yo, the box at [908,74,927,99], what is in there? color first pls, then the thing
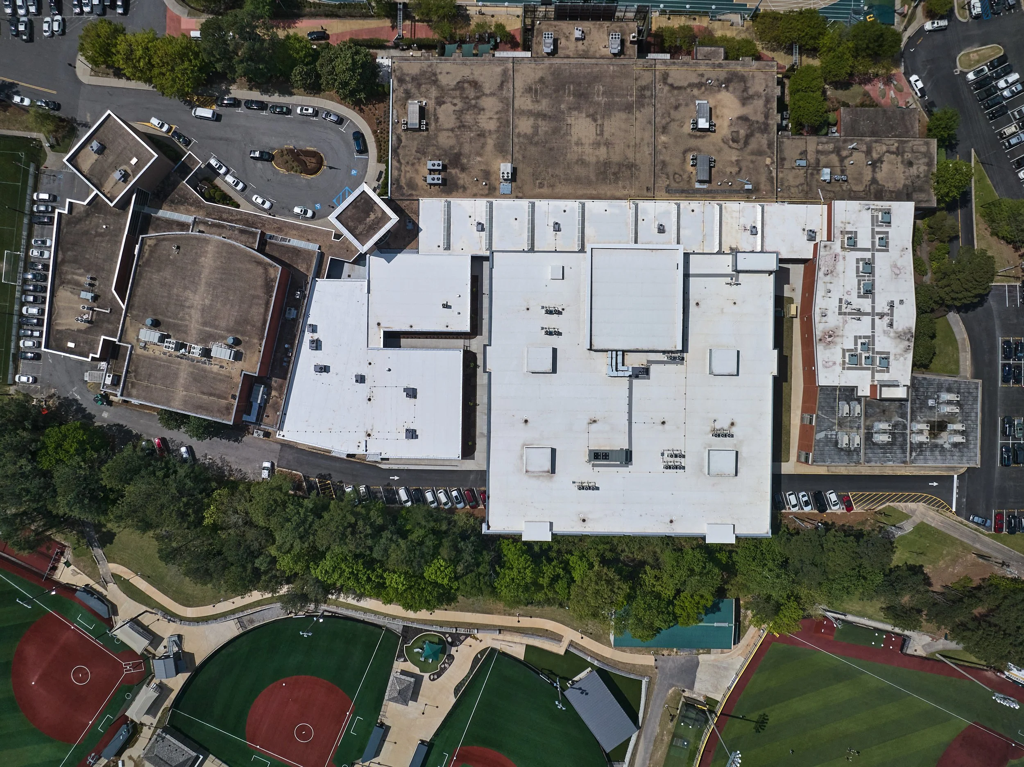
white vehicle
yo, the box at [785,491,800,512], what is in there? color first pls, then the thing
white car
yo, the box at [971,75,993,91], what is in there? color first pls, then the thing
black car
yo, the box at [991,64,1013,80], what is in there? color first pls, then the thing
black car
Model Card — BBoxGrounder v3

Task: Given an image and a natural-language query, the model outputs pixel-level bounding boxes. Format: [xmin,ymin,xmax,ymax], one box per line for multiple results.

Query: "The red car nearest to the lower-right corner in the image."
[993,513,1005,534]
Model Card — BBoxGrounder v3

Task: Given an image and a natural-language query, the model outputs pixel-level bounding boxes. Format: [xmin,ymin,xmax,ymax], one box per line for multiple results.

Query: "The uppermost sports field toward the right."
[834,623,887,648]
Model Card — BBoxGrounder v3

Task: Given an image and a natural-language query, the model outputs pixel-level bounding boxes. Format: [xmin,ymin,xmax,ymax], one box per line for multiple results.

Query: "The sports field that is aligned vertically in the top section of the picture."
[0,136,41,384]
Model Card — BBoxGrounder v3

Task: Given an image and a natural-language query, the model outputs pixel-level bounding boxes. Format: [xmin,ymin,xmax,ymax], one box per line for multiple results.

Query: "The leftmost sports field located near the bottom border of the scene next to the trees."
[0,566,153,767]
